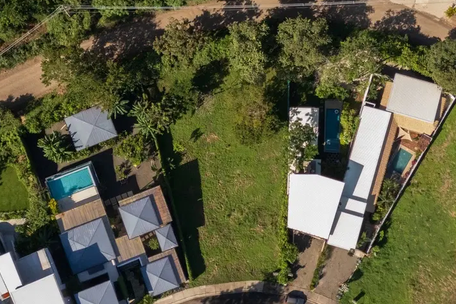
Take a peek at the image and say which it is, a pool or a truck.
pool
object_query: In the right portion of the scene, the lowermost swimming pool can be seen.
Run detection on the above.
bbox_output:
[388,142,414,176]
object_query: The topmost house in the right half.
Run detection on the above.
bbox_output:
[380,73,447,136]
